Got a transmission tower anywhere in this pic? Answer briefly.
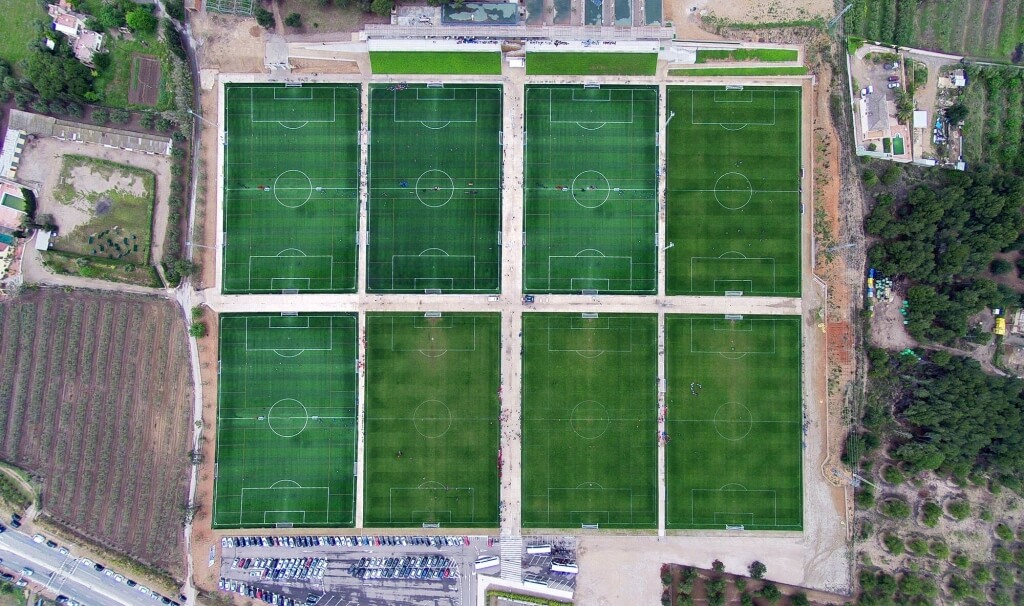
Yes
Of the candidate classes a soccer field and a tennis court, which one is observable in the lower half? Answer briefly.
soccer field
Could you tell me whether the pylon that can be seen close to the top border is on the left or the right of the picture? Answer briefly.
right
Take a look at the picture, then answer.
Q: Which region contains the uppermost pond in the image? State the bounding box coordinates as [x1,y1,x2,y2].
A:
[441,2,519,25]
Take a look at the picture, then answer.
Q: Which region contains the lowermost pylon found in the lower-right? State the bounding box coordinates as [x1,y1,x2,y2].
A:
[828,465,866,483]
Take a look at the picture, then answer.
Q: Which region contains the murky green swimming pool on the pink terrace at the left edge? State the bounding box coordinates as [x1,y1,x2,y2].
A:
[1,194,25,211]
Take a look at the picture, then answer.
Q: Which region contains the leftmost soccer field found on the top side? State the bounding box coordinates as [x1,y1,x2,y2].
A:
[222,83,361,293]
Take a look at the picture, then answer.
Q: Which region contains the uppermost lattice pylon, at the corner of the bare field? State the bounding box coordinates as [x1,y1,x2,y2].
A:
[824,3,857,31]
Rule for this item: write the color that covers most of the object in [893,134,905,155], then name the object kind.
green swimming pool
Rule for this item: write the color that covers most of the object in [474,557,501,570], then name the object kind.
white vehicle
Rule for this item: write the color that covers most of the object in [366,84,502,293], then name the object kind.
green soccer field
